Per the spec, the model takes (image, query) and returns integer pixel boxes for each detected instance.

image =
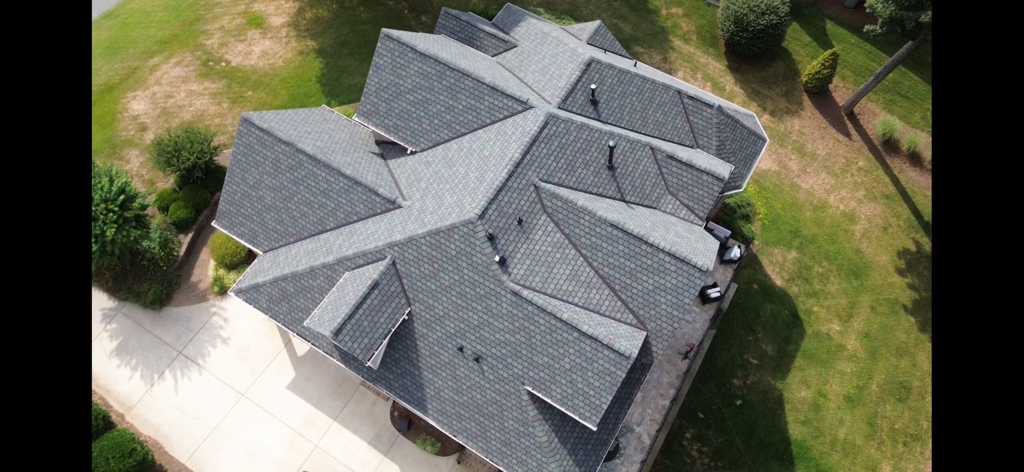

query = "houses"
[210,2,770,472]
